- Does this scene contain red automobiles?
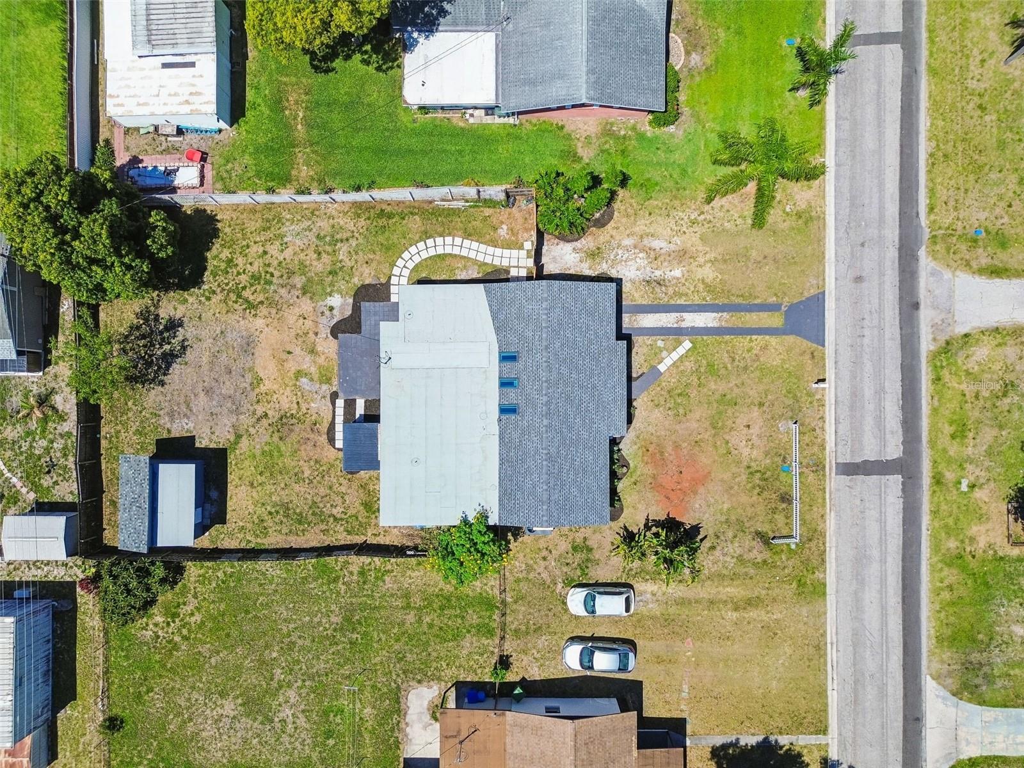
No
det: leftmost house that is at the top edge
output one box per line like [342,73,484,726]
[104,0,240,127]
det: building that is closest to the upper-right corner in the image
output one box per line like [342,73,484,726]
[392,0,666,119]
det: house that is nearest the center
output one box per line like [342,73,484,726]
[343,280,628,528]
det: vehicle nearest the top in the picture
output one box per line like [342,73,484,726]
[567,586,635,622]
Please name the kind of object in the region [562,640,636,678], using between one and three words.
car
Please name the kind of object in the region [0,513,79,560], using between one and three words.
shed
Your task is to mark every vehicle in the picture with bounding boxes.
[562,640,636,678]
[567,586,635,622]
